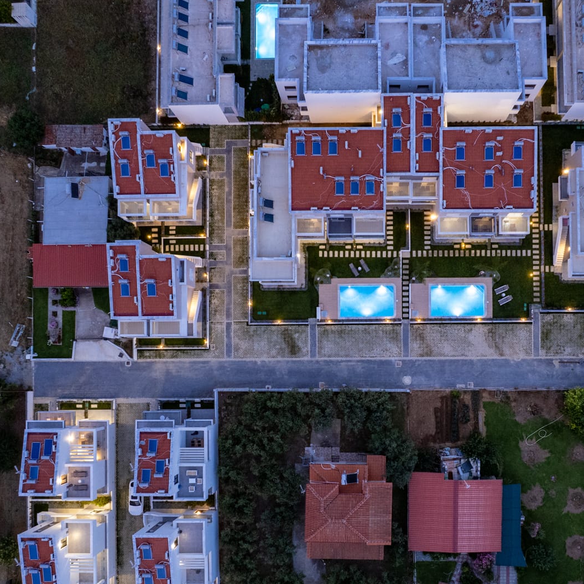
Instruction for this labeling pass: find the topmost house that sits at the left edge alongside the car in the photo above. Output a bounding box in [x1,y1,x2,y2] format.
[19,409,120,500]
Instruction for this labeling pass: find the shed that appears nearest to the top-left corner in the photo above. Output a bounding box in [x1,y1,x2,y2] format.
[44,124,110,159]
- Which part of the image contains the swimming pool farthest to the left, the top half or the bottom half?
top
